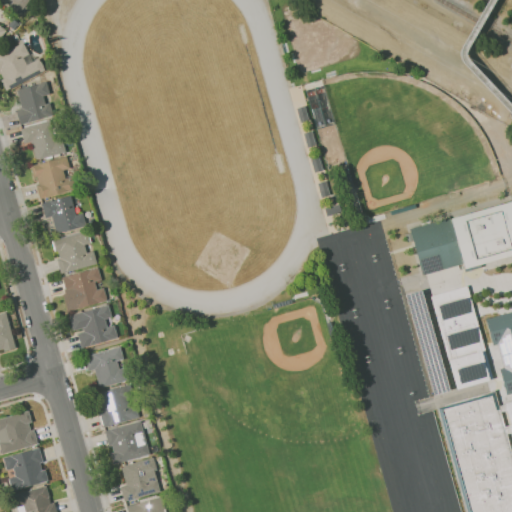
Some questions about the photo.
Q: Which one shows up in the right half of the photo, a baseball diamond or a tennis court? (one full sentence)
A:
What appears in the right half of the photo is a baseball diamond.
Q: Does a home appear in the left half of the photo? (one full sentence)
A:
Yes, a home shows up in the left half of the photo.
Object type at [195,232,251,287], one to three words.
baseball field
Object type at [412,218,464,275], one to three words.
building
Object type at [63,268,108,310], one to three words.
house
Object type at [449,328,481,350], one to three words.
solar panel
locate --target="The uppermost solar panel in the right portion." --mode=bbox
[422,252,445,272]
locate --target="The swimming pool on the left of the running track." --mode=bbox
[30,34,42,54]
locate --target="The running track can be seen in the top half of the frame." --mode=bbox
[65,0,322,316]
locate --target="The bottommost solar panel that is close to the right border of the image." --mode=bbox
[460,364,488,384]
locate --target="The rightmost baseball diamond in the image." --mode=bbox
[326,72,506,216]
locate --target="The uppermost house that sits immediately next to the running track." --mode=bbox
[0,50,46,89]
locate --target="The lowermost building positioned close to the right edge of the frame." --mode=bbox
[437,390,512,512]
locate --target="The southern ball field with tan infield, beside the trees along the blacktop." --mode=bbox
[188,299,358,443]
